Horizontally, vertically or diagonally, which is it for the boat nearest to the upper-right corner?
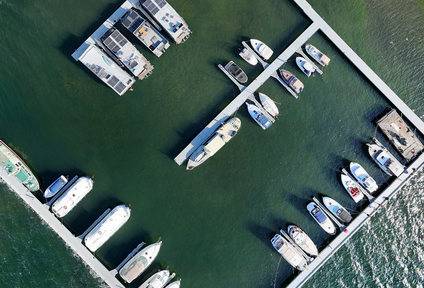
diagonally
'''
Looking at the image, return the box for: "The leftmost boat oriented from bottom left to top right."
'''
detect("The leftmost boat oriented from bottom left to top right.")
[44,175,68,198]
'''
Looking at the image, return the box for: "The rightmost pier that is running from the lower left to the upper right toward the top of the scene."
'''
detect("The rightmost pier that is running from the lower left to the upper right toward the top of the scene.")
[174,23,318,166]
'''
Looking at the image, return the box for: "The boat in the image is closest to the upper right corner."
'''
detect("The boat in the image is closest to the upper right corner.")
[306,46,332,67]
